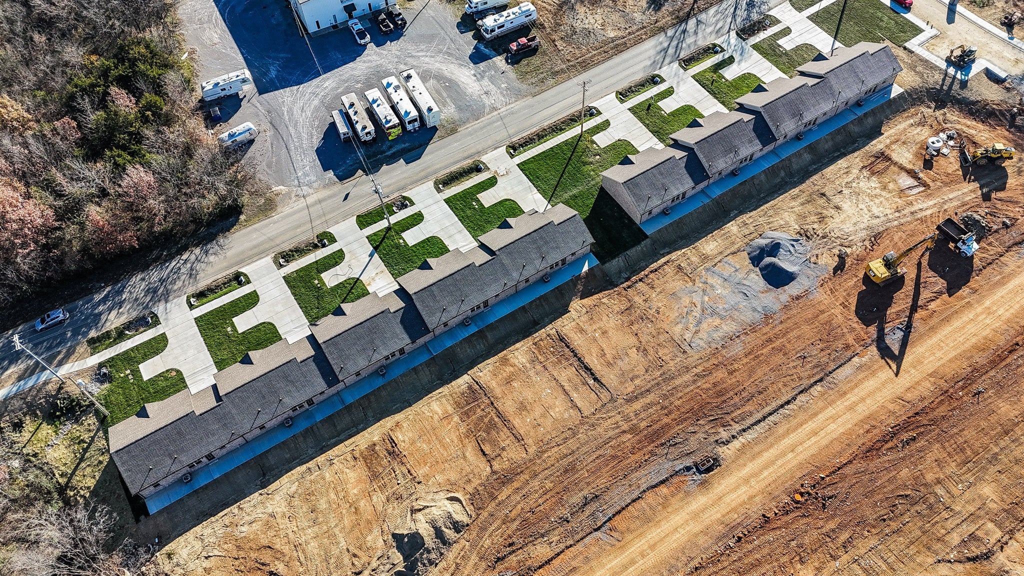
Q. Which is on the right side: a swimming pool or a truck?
truck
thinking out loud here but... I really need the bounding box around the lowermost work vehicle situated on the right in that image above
[862,242,944,293]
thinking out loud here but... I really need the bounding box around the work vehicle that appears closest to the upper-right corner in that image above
[1005,10,1023,27]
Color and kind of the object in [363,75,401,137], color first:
white camper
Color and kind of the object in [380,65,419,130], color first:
white trailer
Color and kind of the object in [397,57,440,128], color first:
white trailer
